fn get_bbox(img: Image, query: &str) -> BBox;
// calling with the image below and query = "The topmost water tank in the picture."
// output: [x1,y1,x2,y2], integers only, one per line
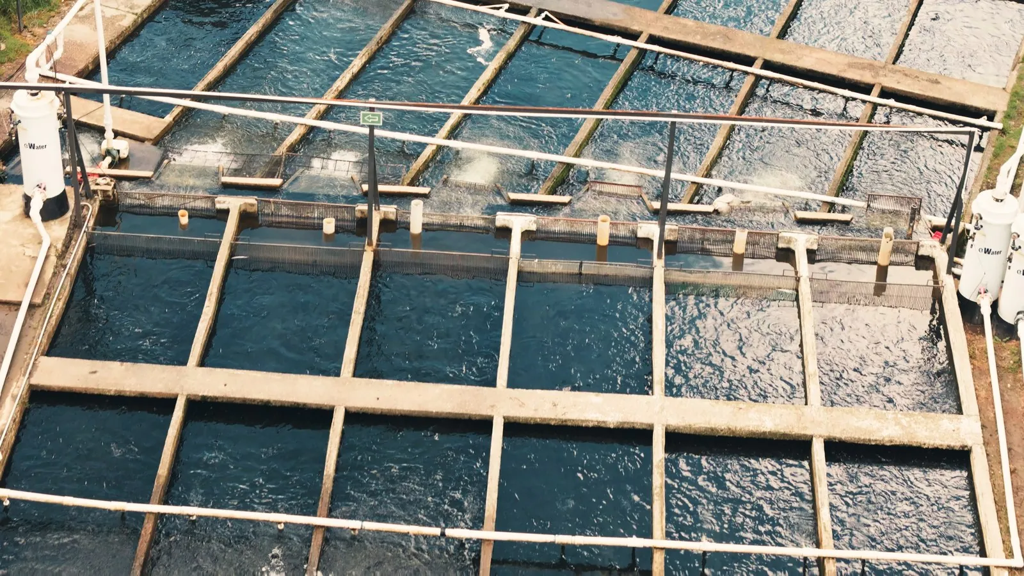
[6,93,67,226]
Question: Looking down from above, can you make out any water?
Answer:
Yes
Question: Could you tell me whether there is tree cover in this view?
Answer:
No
